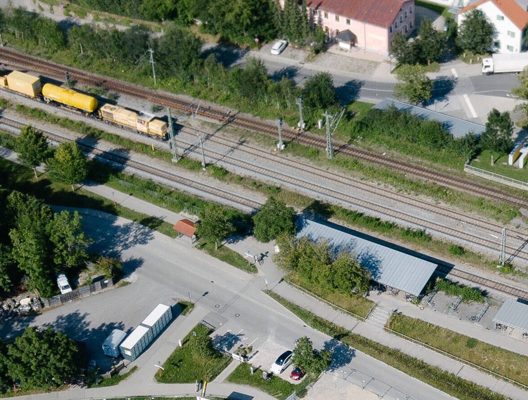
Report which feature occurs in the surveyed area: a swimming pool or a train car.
train car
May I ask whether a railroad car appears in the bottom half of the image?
No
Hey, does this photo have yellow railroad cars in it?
Yes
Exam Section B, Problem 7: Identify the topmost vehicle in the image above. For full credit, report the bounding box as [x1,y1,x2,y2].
[269,37,289,53]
